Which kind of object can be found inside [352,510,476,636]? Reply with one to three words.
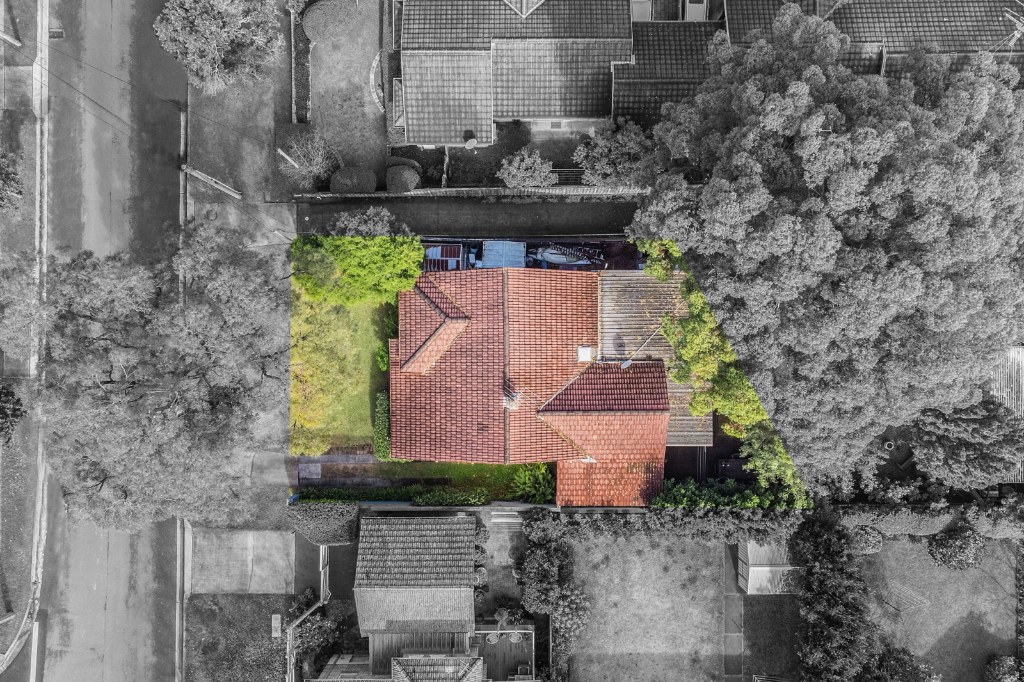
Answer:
house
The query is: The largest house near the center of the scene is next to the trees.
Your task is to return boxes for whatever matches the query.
[389,268,670,508]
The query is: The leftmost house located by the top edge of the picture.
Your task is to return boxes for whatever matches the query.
[393,0,634,155]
